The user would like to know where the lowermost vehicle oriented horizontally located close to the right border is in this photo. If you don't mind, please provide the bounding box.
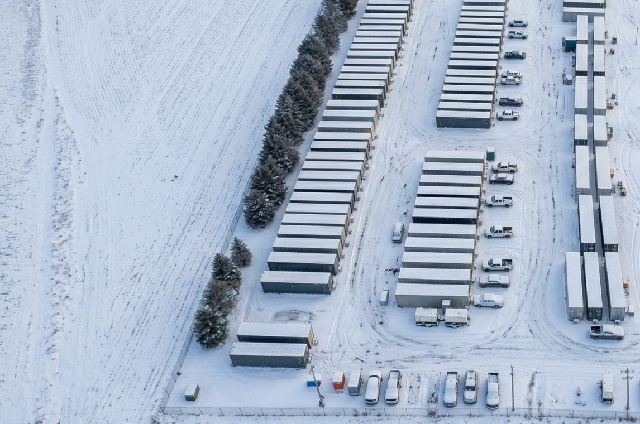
[588,325,625,340]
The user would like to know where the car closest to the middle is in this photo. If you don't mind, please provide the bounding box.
[391,222,404,243]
